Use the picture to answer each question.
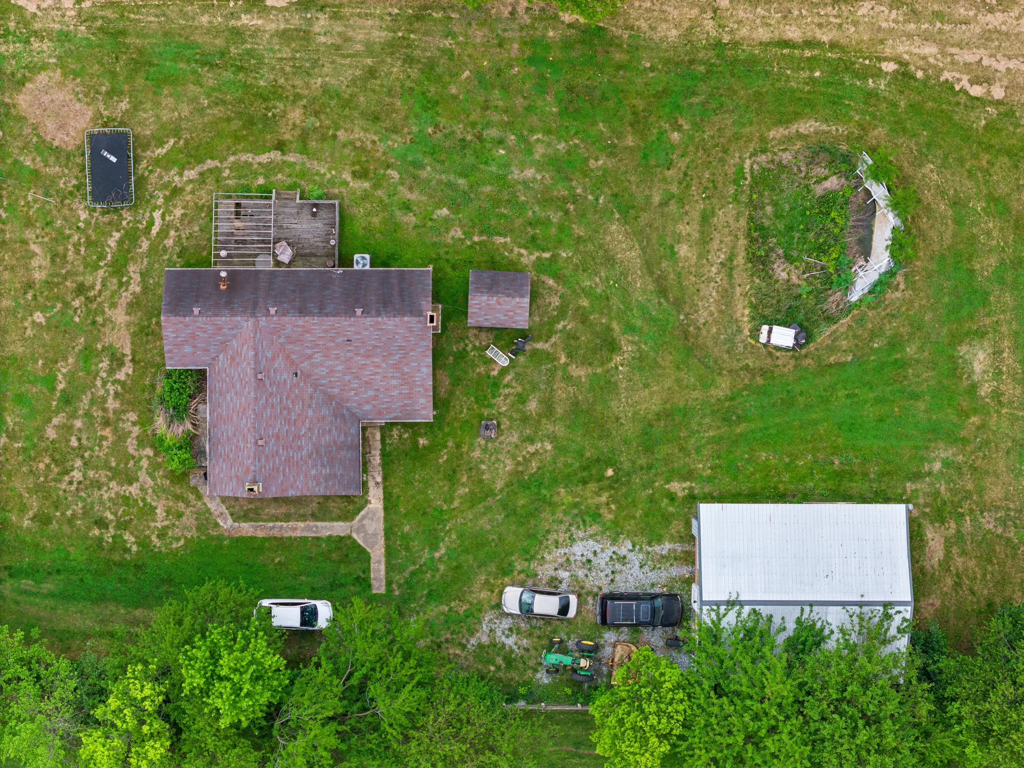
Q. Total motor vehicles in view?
five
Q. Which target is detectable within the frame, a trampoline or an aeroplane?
trampoline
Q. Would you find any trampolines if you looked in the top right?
No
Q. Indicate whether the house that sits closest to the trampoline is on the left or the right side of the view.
left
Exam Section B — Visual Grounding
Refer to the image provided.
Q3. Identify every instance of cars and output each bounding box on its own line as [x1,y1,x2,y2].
[597,591,680,630]
[254,597,333,632]
[501,585,579,621]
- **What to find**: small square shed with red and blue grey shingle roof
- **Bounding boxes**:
[467,269,531,329]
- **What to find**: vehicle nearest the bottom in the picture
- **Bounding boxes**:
[542,639,601,681]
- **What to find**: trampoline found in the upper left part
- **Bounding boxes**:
[85,129,134,207]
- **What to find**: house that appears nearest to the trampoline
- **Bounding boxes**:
[161,266,441,498]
